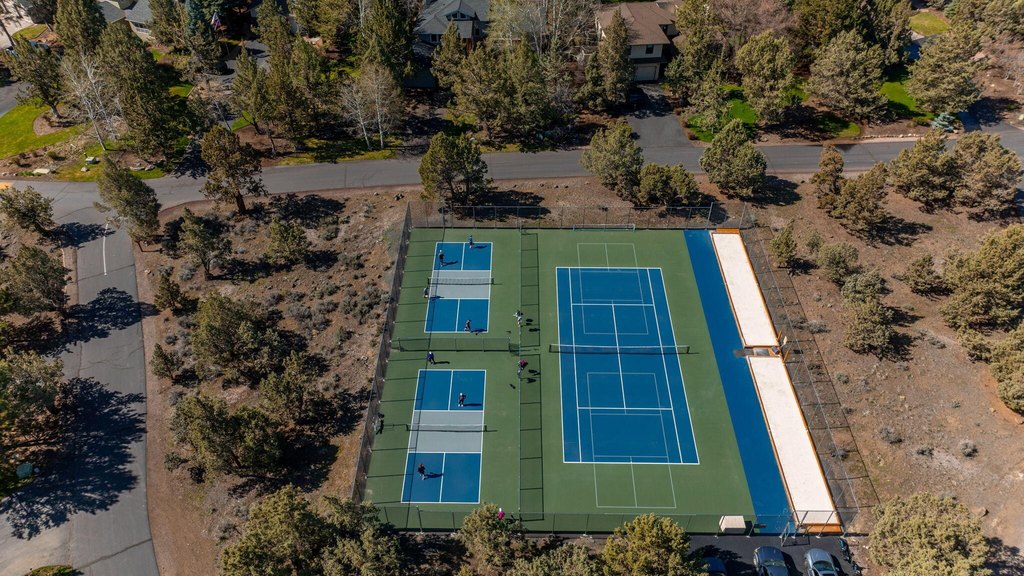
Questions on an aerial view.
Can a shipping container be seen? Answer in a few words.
No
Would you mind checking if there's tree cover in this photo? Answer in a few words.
Yes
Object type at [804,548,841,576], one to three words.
car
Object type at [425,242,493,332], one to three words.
sports court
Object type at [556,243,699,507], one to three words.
tennis court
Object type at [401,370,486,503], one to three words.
sports court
